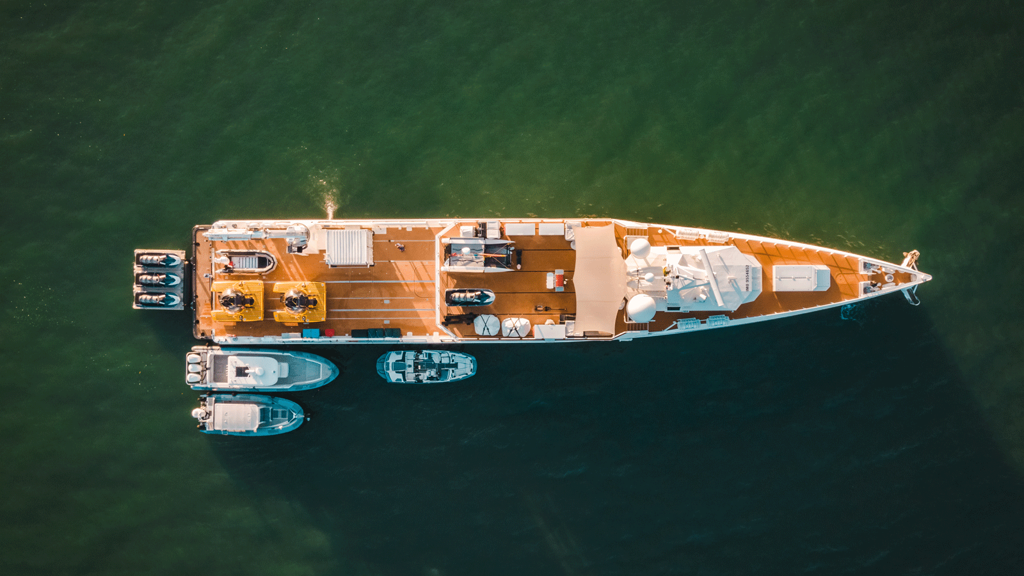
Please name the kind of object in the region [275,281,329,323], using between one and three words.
ship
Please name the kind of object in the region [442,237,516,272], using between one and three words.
boat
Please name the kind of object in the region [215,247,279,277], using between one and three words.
boat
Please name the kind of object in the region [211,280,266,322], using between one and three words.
ship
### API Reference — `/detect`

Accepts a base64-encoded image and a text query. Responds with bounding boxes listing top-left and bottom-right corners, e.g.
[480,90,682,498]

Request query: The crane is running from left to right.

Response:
[208,221,316,256]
